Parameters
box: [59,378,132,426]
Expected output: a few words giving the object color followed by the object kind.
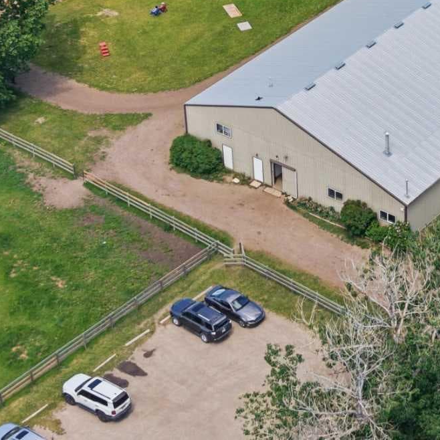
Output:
white car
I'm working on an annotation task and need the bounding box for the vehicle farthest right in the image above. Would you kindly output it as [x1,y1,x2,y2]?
[208,287,271,331]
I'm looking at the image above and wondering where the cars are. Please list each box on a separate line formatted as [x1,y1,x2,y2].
[59,378,132,426]
[166,300,233,344]
[208,287,271,331]
[0,422,49,440]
